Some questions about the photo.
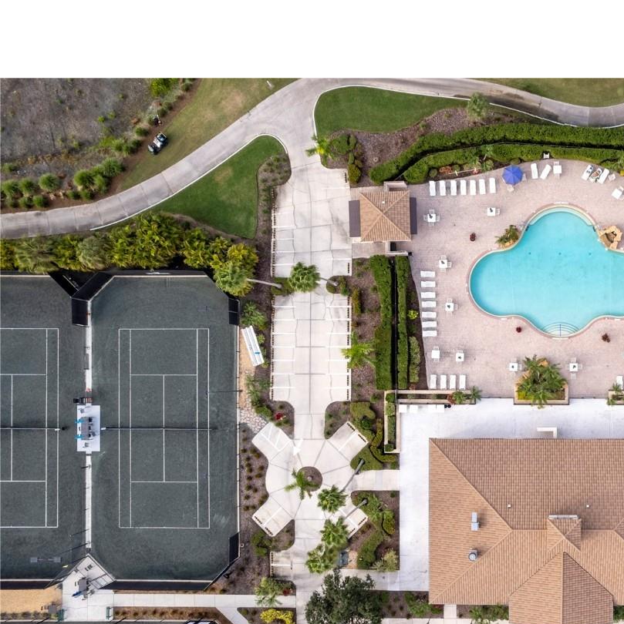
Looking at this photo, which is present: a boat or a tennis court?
tennis court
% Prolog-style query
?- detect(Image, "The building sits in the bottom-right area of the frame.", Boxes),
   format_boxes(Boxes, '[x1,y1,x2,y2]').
[428,425,624,624]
